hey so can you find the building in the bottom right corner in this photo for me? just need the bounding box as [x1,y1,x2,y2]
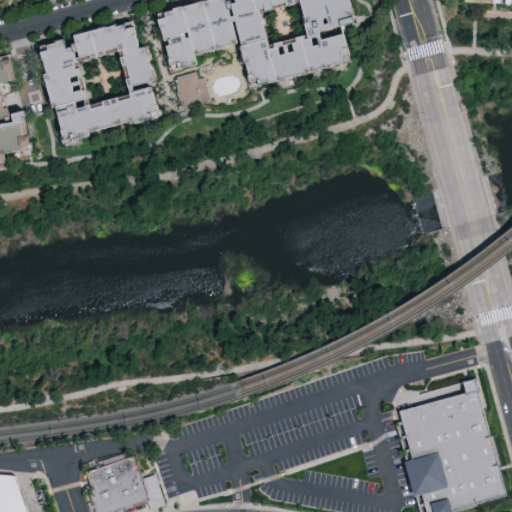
[384,377,506,512]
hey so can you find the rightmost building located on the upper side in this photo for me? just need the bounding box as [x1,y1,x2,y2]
[231,0,354,86]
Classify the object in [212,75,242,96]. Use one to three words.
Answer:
swimming pool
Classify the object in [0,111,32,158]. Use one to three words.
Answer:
house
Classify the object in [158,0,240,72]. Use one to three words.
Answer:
building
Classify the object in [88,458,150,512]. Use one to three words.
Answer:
building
